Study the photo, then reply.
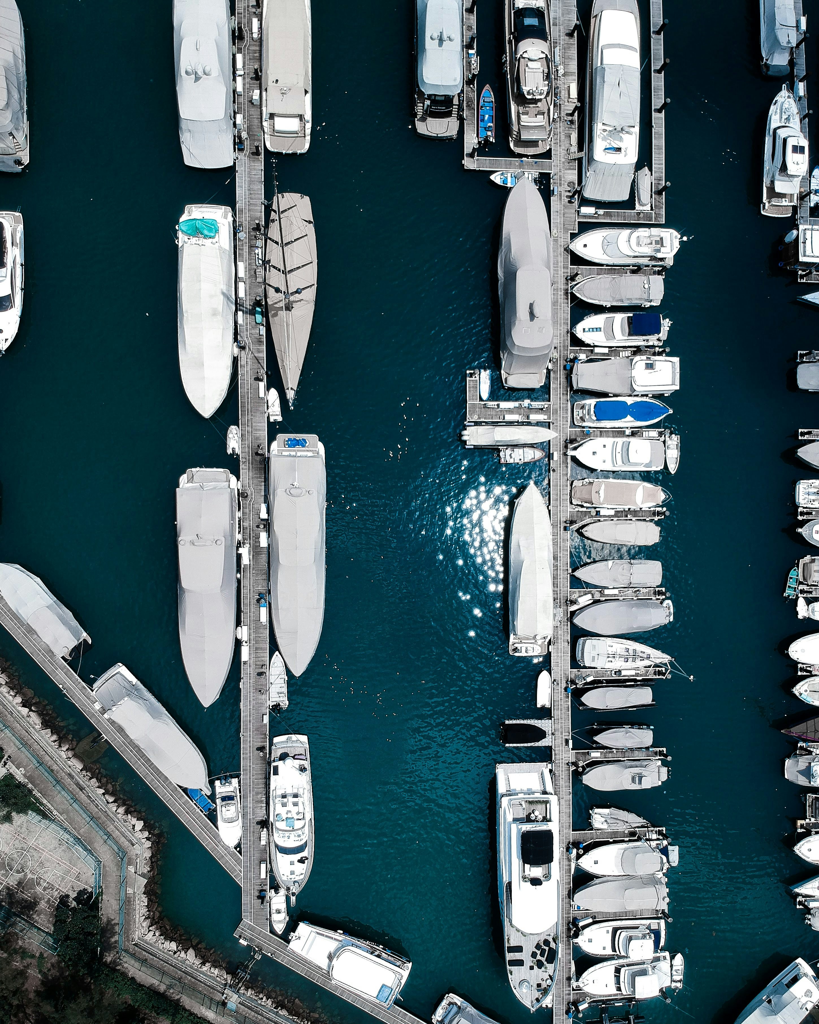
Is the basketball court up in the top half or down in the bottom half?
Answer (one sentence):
The basketball court is in the bottom half of the image.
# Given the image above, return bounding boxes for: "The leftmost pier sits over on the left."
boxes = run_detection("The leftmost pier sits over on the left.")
[0,600,242,886]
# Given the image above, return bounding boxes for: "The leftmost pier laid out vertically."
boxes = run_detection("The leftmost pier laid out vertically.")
[236,0,269,933]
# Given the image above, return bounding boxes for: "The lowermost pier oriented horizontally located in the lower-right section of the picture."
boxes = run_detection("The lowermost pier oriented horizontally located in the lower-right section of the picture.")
[572,988,666,1008]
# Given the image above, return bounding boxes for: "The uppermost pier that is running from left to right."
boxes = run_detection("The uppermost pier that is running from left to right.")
[476,157,552,173]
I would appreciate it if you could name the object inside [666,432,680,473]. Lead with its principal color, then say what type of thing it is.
white boat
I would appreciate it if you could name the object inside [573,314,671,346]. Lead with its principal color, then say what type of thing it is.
white boat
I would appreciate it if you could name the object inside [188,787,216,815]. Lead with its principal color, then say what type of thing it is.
blue boat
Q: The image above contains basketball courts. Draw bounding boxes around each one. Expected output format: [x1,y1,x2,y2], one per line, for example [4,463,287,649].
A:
[0,813,93,938]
